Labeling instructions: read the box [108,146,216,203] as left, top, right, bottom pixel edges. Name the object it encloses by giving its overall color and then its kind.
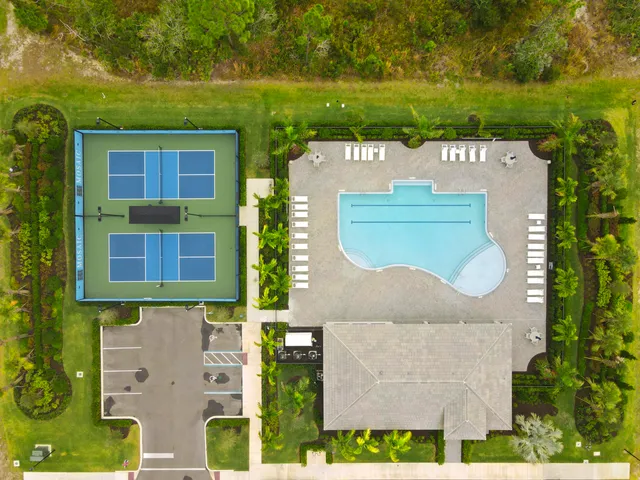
blue sports court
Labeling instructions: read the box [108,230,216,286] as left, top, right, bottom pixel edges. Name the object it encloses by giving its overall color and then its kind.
blue sports court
